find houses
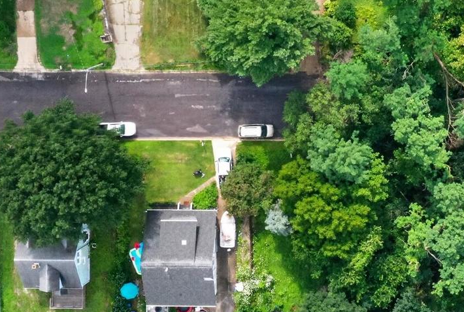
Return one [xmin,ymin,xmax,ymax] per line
[142,209,219,308]
[13,226,90,291]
